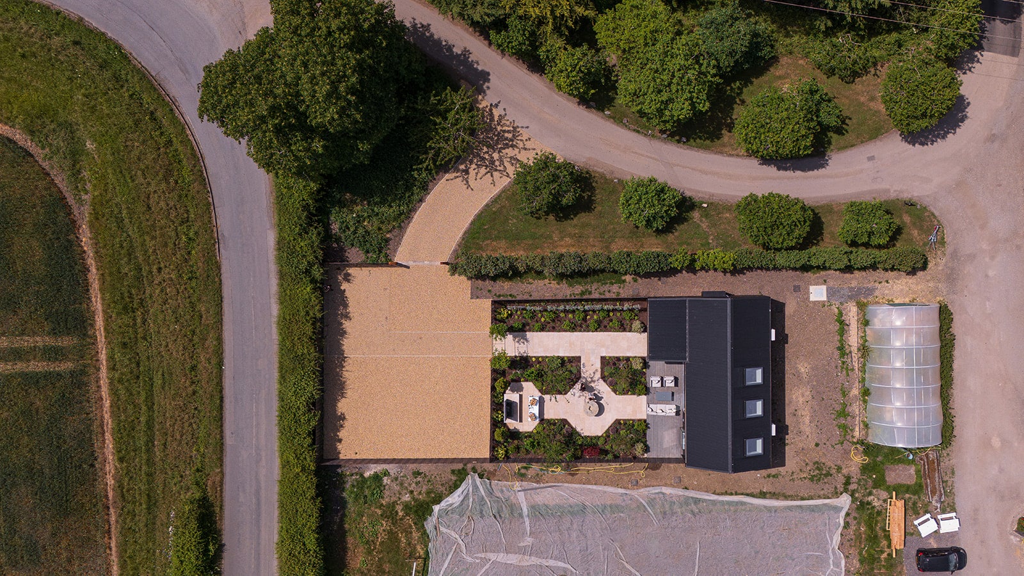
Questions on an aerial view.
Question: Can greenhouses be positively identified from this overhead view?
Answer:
Yes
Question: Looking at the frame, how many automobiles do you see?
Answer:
1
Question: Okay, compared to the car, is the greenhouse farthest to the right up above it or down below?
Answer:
above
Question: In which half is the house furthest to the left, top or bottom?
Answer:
bottom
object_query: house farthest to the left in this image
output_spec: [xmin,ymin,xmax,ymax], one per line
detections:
[644,289,777,475]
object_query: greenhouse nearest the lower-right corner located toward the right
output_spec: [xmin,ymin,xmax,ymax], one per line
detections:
[866,305,941,446]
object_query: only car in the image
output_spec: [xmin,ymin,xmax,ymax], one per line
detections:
[913,544,965,574]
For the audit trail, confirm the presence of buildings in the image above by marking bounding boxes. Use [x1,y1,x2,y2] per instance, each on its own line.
[866,305,941,446]
[644,289,777,475]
